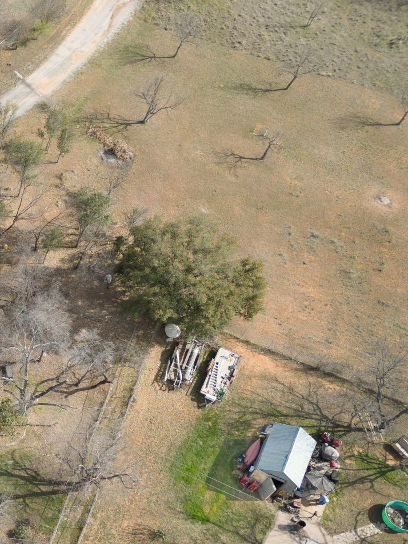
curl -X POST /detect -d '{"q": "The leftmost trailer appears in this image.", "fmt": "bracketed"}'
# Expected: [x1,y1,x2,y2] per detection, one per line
[165,342,202,399]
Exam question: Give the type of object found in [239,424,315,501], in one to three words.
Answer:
shed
